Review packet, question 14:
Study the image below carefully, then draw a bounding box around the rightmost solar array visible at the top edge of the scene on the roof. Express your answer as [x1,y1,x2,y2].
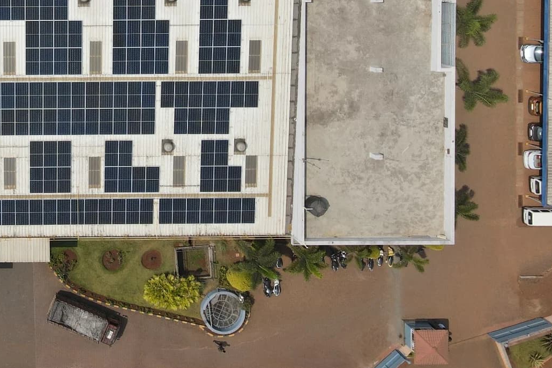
[197,0,242,73]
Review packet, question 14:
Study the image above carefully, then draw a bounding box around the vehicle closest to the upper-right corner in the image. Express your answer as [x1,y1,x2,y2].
[519,42,543,65]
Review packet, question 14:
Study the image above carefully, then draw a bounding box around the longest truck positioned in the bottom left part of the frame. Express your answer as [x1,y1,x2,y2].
[48,292,124,348]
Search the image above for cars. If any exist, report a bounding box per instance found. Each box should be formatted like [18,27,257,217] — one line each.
[526,95,542,115]
[527,121,542,142]
[522,149,541,170]
[519,42,543,65]
[527,176,541,196]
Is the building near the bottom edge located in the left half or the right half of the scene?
right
